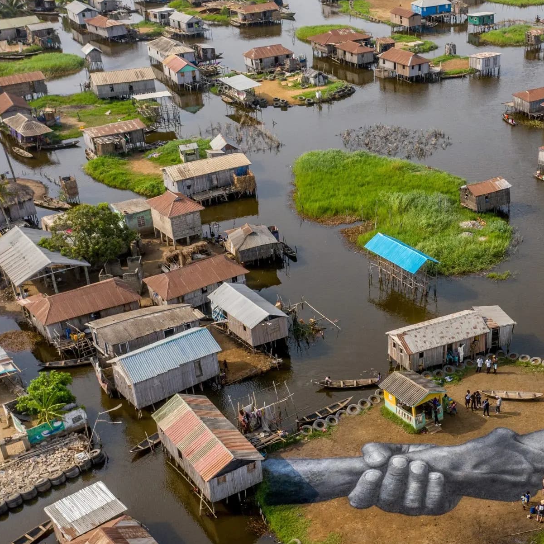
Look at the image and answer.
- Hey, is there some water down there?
Yes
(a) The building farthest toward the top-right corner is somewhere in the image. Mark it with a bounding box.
[523,28,544,50]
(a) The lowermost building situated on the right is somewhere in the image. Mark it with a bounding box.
[379,366,444,433]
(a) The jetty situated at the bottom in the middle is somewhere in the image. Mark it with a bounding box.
[245,428,286,457]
